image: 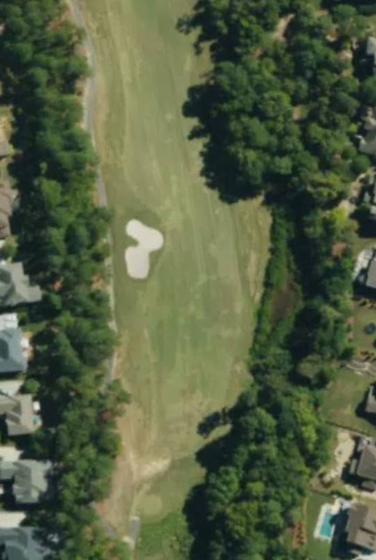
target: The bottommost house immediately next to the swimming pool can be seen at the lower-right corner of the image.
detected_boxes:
[343,502,376,552]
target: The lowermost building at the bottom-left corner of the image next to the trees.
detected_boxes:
[0,525,49,560]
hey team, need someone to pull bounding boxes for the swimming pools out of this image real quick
[314,498,343,543]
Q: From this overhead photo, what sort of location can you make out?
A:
golf course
